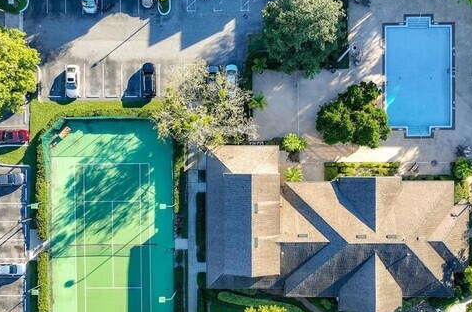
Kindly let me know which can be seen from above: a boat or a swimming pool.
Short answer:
swimming pool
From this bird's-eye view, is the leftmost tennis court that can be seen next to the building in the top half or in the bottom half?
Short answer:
bottom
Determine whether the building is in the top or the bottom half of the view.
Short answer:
bottom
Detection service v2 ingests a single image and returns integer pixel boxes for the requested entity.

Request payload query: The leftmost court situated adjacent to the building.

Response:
[51,120,173,312]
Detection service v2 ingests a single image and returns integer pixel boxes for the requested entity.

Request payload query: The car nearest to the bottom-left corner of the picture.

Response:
[0,262,28,277]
